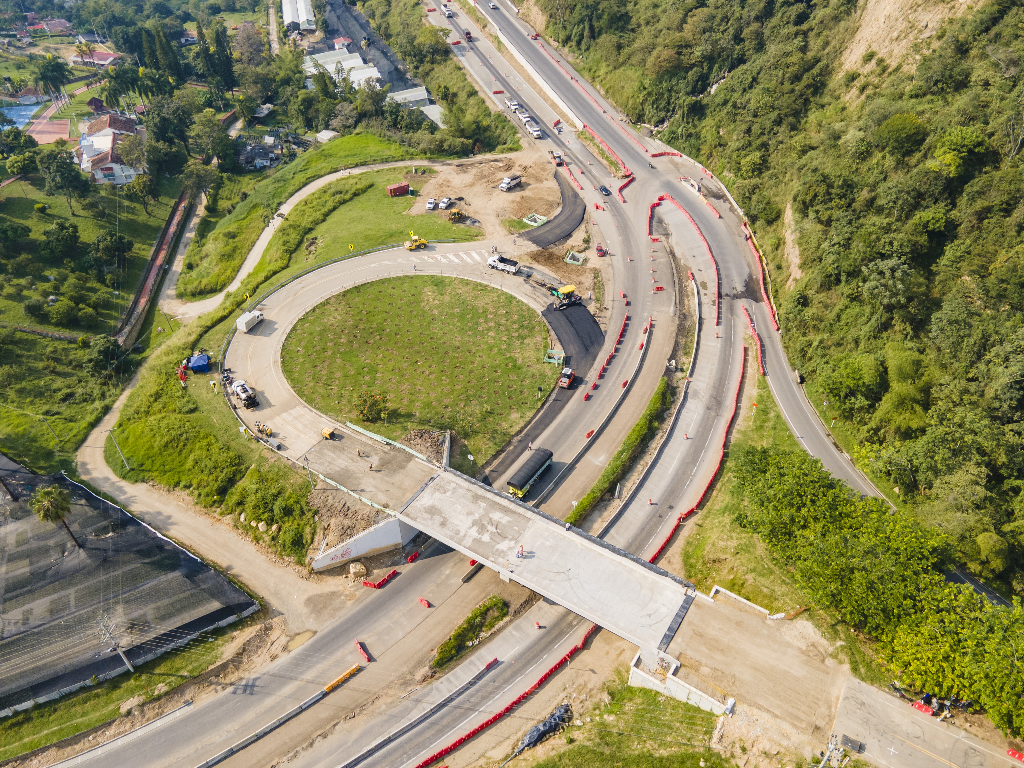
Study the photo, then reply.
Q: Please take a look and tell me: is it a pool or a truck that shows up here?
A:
truck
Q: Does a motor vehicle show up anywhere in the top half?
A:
Yes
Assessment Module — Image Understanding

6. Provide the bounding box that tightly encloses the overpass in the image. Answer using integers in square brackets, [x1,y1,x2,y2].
[310,427,697,657]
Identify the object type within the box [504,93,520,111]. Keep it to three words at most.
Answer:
vehicle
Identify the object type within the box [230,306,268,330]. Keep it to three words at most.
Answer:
truck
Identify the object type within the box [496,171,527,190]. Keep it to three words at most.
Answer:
vehicle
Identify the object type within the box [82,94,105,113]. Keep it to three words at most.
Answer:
gazebo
